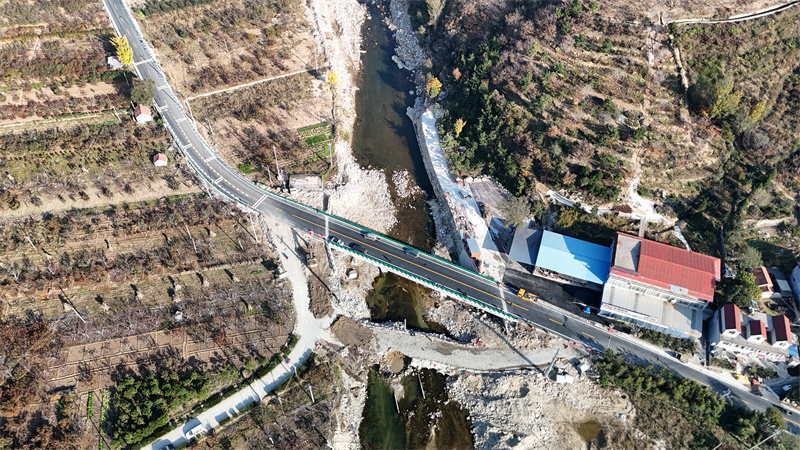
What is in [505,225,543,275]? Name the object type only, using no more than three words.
shed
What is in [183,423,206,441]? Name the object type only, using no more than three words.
vehicle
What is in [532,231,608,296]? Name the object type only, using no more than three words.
shed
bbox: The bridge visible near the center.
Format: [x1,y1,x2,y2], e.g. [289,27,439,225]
[313,215,513,316]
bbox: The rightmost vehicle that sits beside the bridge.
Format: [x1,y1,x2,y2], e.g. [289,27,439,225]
[520,288,541,302]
